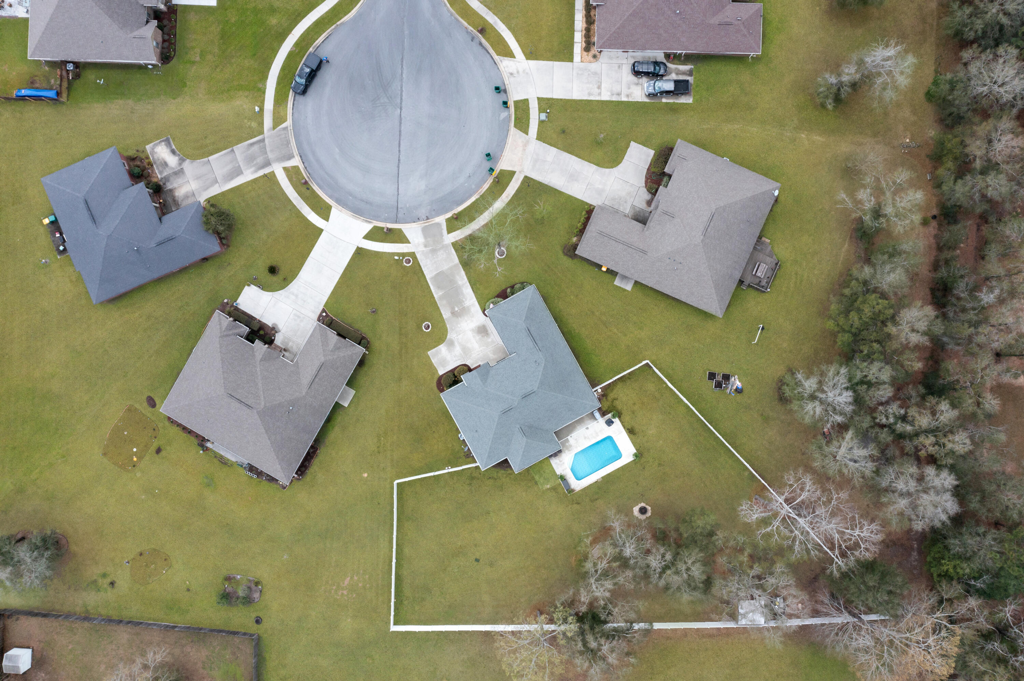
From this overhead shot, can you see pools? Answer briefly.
Yes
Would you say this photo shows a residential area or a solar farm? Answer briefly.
residential area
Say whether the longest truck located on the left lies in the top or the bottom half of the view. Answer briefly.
top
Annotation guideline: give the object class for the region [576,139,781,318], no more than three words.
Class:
house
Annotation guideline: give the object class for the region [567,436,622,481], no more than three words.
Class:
swimming pool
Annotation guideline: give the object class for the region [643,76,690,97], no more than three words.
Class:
truck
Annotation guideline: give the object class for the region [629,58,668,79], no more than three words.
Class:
car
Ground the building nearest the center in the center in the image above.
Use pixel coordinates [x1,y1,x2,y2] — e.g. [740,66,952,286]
[439,284,601,474]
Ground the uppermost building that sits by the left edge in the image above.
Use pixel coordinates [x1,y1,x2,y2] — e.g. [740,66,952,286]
[27,0,166,70]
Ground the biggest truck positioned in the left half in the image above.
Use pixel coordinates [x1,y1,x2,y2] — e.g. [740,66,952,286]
[291,51,324,96]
